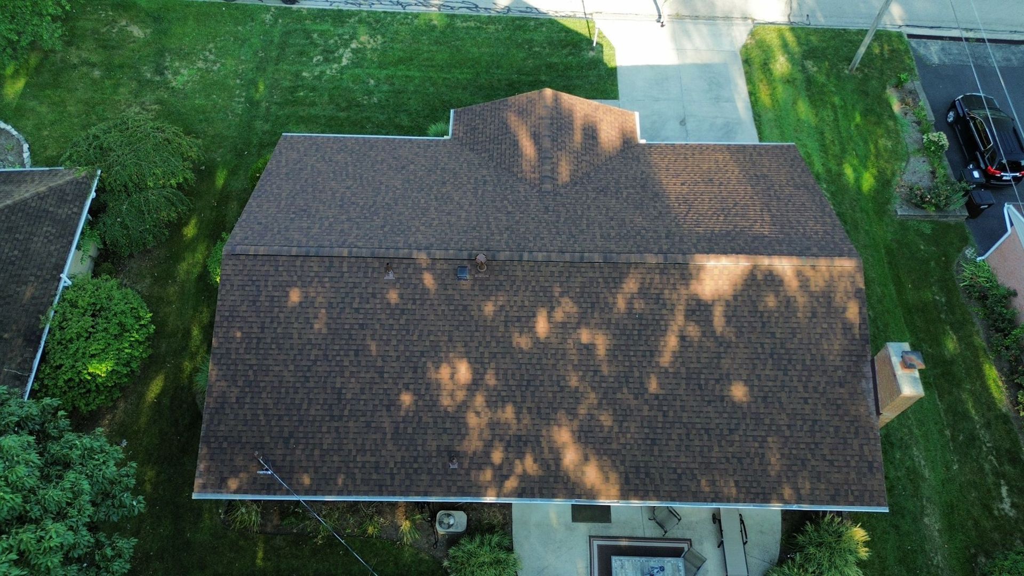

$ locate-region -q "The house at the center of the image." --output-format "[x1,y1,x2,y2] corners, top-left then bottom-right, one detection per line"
[192,87,926,523]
